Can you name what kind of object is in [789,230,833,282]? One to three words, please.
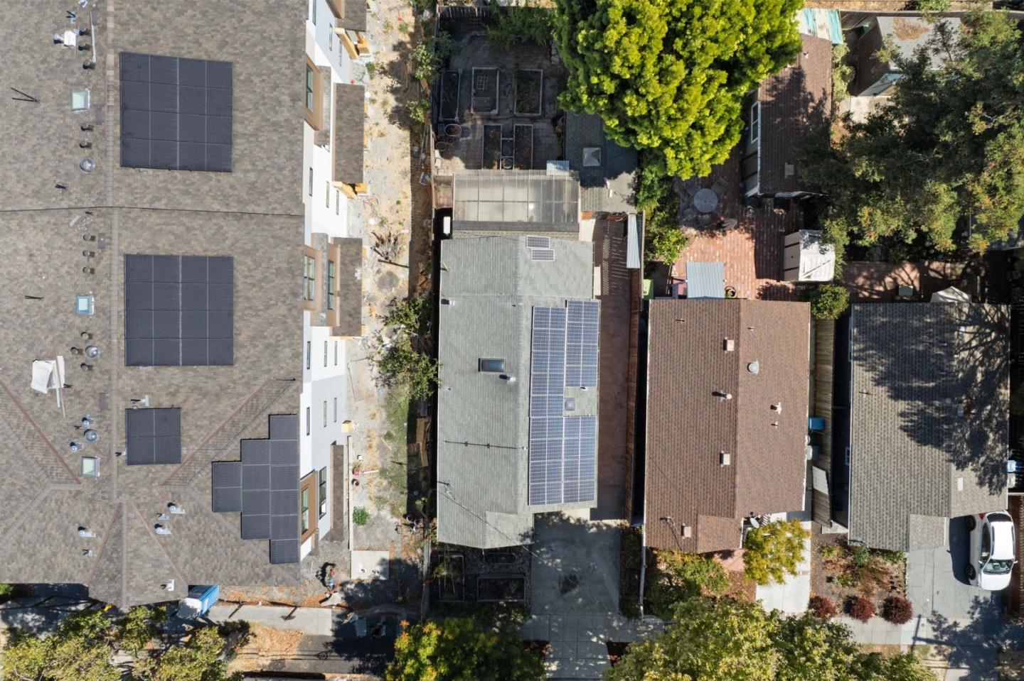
shed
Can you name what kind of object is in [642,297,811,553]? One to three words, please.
house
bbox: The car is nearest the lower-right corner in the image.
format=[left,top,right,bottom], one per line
[970,514,1019,592]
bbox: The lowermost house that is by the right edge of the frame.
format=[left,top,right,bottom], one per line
[832,303,1012,553]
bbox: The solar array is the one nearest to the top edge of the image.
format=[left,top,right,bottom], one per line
[121,53,234,171]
